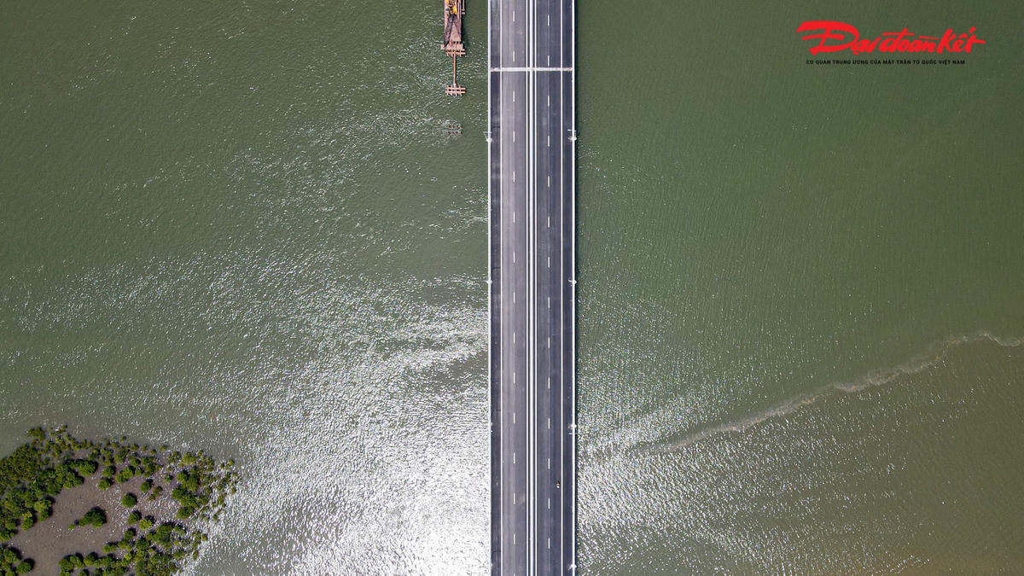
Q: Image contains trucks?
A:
No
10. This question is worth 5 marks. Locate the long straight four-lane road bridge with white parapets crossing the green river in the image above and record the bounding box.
[489,0,575,576]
